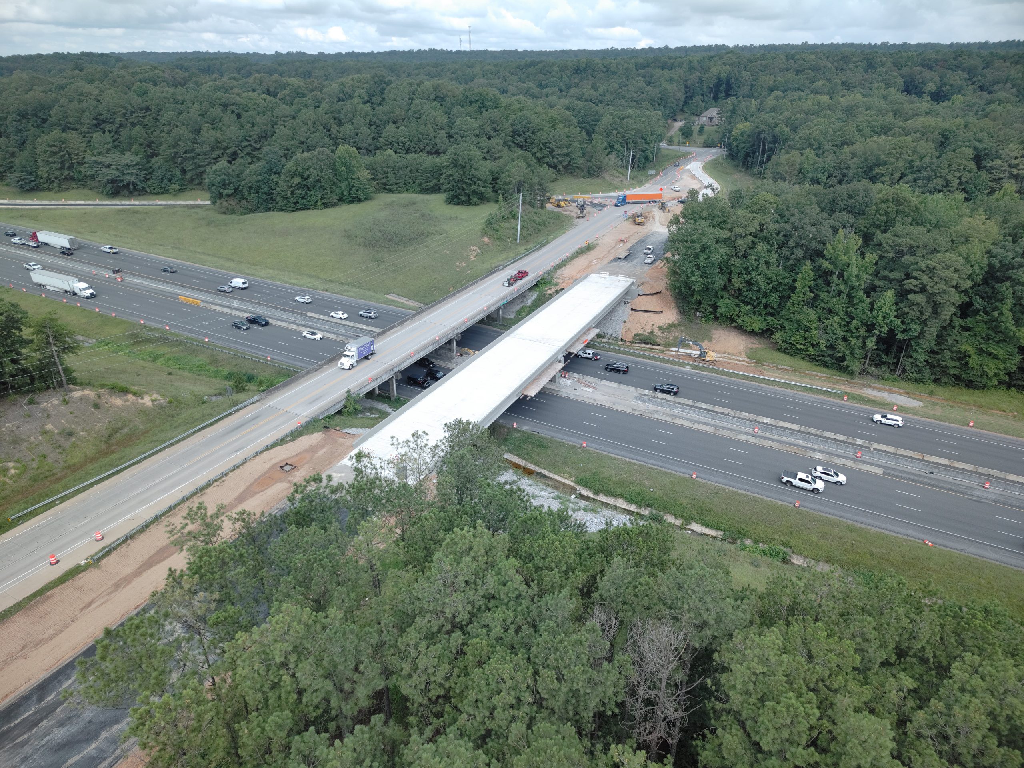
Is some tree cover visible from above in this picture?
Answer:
Yes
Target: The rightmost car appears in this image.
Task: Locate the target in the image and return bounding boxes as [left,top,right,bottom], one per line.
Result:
[873,413,905,428]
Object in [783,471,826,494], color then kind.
white truck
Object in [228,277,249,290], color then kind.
white vehicle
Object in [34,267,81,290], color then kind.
white trailer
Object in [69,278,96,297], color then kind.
white vehicle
